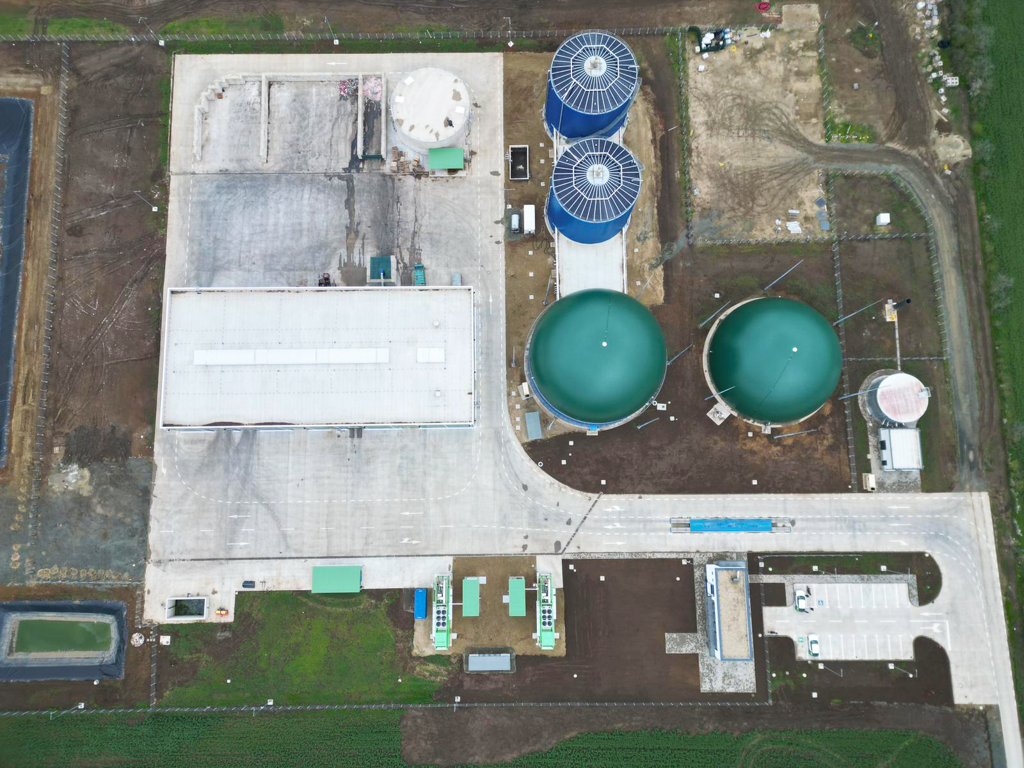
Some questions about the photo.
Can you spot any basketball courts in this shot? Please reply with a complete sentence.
No, no basketball court is visible in the scene.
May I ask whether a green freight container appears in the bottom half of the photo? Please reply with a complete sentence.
Yes, a green freight container can be seen in the bottom half of the photo.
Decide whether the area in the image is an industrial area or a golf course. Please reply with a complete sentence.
This image shows an industrial area.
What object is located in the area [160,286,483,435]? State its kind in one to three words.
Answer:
building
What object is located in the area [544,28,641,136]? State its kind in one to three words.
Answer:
storage tank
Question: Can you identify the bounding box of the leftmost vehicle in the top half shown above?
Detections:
[319,273,333,288]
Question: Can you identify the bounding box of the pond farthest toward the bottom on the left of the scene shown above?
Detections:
[0,600,127,680]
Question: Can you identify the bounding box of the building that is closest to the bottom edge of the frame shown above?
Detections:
[468,651,511,671]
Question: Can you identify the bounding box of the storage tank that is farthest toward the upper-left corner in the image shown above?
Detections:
[390,68,475,156]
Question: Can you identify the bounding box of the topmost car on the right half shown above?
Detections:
[795,590,810,612]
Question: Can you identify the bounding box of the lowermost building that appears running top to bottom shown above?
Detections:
[701,559,753,661]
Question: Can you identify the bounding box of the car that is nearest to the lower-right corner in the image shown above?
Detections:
[807,635,819,657]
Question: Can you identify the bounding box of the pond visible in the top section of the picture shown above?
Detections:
[0,98,34,466]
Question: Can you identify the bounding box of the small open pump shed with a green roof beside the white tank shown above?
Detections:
[430,141,470,178]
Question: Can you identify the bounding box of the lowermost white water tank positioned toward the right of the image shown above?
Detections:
[866,372,936,427]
